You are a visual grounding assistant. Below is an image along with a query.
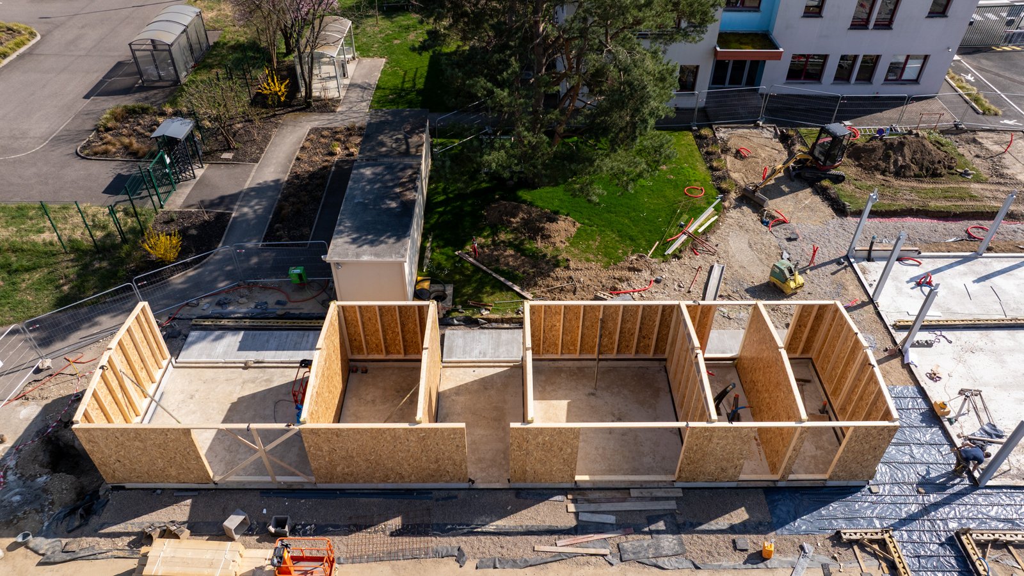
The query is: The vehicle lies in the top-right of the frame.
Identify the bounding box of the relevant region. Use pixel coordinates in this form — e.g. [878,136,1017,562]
[747,105,857,196]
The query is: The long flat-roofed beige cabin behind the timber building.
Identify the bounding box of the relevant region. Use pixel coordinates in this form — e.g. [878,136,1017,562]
[325,107,432,302]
